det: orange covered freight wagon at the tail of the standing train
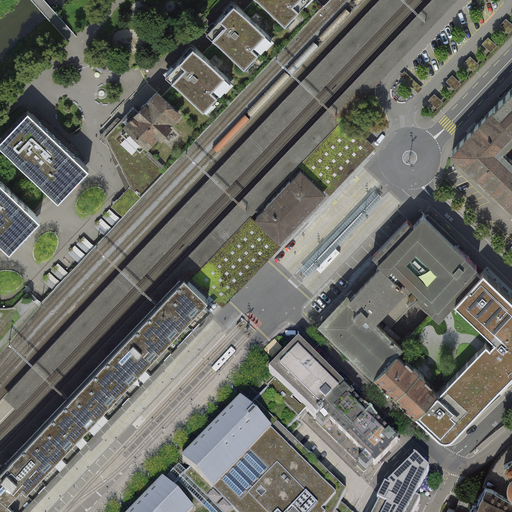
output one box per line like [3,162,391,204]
[214,114,250,152]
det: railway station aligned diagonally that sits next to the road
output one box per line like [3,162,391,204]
[4,0,454,412]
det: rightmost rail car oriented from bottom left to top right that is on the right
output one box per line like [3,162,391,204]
[318,7,351,42]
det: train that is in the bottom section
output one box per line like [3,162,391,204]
[212,345,236,370]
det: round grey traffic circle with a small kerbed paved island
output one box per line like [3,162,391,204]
[378,126,442,189]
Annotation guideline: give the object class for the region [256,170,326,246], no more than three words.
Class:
building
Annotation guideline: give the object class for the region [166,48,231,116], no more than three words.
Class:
house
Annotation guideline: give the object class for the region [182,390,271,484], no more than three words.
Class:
building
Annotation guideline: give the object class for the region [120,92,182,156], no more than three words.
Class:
house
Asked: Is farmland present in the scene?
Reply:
No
